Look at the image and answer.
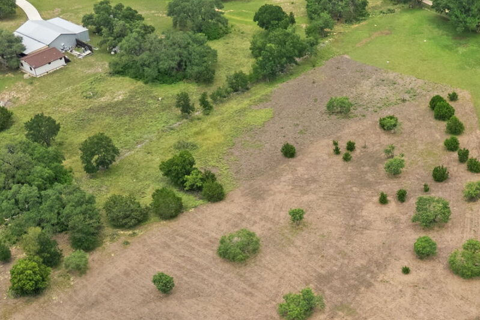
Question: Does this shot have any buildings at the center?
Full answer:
No, I can find no building at the center.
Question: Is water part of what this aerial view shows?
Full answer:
No, the picture contains no water.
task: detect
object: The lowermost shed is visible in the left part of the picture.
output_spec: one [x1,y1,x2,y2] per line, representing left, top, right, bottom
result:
[19,50,65,77]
